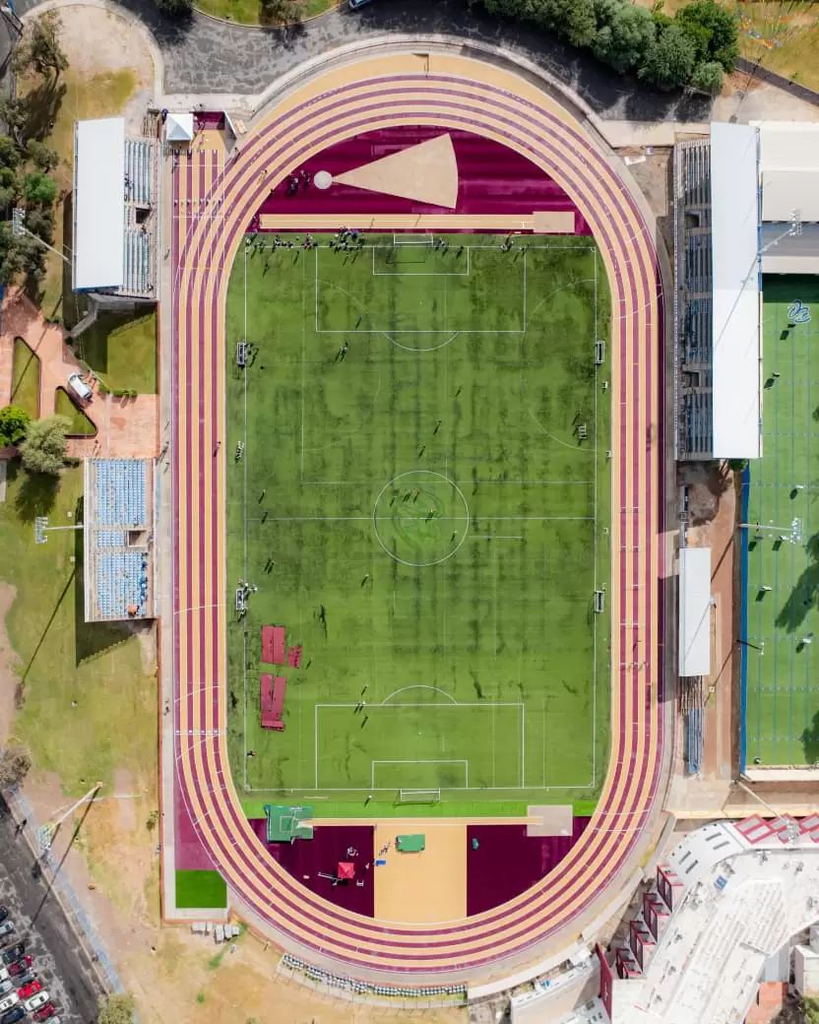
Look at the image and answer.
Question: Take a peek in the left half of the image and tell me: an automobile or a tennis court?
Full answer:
Looking in the left half of the image, you will find an automobile.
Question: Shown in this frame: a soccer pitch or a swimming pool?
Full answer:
Looking from above, you can make out a soccer pitch.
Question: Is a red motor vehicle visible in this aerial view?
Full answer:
Yes, you can see a red motor vehicle in this photo.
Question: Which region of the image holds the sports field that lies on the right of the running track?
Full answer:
The sports field that lies on the right of the running track is in the right part of the image.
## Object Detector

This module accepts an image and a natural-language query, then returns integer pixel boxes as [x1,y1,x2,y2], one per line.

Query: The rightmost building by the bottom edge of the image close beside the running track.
[597,811,819,1024]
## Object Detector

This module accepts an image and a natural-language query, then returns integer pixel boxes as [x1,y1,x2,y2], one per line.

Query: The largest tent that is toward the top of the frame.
[165,110,194,142]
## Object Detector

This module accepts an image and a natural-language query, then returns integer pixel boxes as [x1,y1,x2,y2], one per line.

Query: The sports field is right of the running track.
[740,279,819,774]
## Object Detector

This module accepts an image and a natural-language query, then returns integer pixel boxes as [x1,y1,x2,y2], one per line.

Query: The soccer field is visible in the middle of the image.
[227,236,610,817]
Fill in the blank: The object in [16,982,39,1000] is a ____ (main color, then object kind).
red car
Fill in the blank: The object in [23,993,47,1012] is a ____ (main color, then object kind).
white car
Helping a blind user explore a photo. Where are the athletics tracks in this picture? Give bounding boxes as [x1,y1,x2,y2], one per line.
[173,55,665,974]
